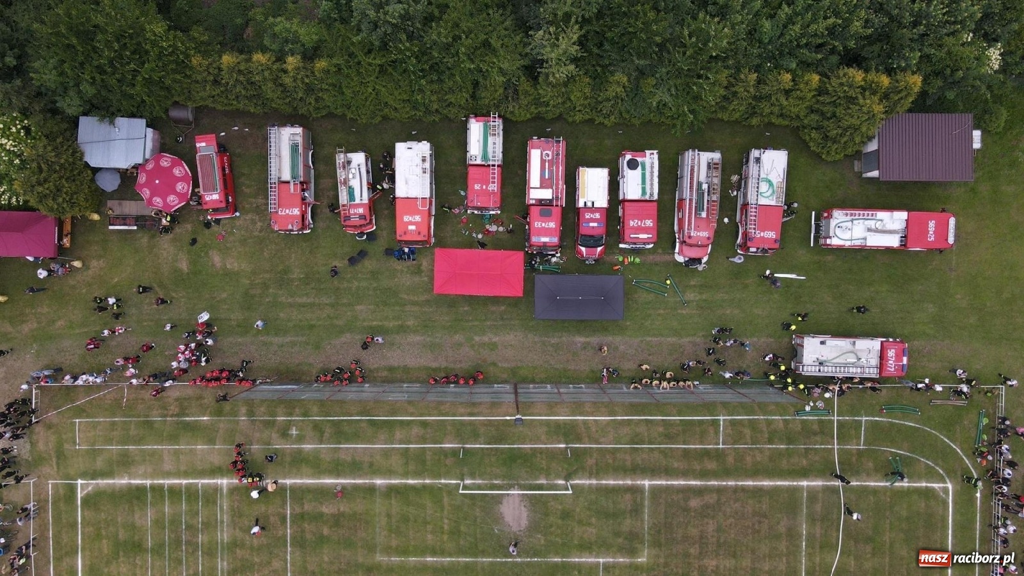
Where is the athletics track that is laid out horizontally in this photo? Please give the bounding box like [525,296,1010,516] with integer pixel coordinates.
[73,411,979,576]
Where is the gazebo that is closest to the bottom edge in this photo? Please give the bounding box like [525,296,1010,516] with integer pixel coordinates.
[534,274,624,320]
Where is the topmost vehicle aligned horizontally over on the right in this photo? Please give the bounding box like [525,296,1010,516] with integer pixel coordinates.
[810,208,955,256]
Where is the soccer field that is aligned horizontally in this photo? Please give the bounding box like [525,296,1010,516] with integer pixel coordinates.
[48,480,951,576]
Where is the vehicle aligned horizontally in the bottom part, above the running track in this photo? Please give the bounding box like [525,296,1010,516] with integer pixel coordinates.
[789,334,908,380]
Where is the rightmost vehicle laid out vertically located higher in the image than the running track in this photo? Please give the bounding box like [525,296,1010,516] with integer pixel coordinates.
[730,147,787,254]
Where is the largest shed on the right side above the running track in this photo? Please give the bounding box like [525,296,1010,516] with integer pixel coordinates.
[859,113,974,183]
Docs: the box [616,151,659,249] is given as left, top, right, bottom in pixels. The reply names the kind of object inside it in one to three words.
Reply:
truck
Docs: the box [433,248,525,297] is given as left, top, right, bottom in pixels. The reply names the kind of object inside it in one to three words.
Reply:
gazebo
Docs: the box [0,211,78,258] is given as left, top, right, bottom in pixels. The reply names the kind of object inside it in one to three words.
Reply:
gazebo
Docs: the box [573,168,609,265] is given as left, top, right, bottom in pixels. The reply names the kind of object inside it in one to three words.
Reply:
truck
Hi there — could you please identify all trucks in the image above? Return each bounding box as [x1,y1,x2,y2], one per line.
[268,125,318,234]
[616,151,659,249]
[394,141,437,247]
[523,137,566,254]
[464,113,506,214]
[573,168,609,265]
[336,147,379,240]
[789,334,908,380]
[730,147,787,254]
[810,208,955,256]
[195,133,239,221]
[670,149,721,263]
